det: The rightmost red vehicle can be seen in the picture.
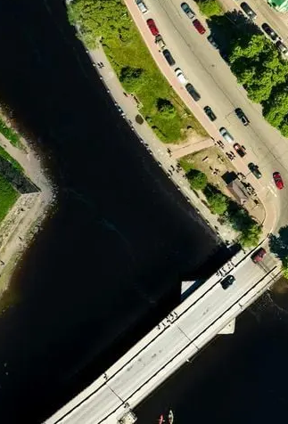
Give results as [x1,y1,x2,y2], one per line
[270,173,285,189]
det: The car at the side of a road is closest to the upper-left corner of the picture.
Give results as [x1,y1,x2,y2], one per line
[135,0,147,14]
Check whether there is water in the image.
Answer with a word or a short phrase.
Yes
